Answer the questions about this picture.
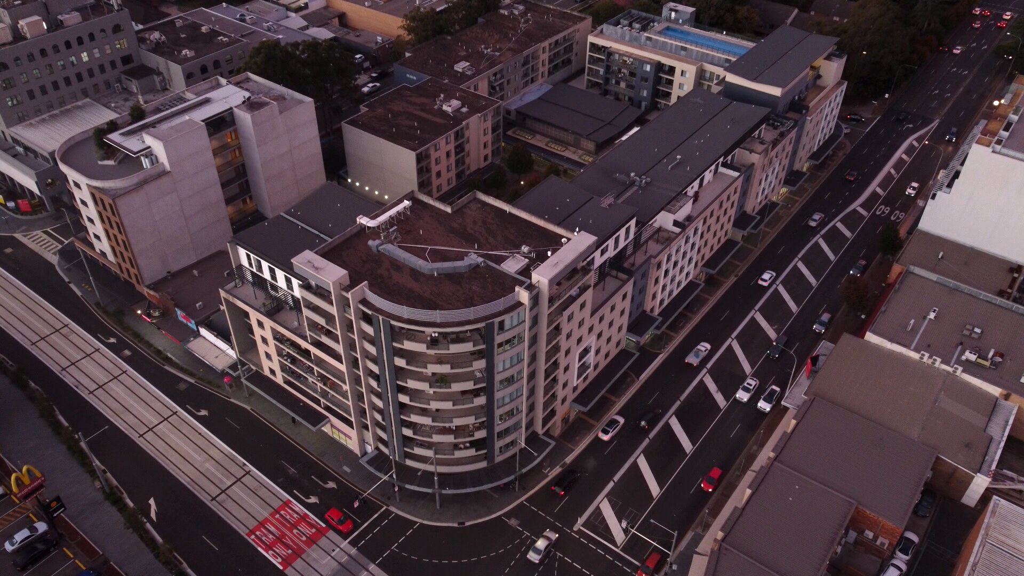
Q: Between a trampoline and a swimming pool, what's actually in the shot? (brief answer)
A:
swimming pool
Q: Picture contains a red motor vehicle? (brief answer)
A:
Yes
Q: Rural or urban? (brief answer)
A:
urban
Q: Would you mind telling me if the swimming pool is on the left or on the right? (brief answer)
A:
right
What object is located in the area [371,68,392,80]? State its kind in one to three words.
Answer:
vehicle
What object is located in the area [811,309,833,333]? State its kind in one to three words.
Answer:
car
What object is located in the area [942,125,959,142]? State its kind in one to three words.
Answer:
car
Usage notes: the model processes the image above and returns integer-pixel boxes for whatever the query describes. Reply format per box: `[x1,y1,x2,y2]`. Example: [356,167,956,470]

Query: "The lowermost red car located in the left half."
[322,507,355,535]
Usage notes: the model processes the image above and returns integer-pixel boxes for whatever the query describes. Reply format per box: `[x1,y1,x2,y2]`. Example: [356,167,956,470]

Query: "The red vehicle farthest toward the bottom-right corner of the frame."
[700,465,726,495]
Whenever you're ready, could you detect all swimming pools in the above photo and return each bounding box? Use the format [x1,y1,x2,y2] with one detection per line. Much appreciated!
[650,26,746,57]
